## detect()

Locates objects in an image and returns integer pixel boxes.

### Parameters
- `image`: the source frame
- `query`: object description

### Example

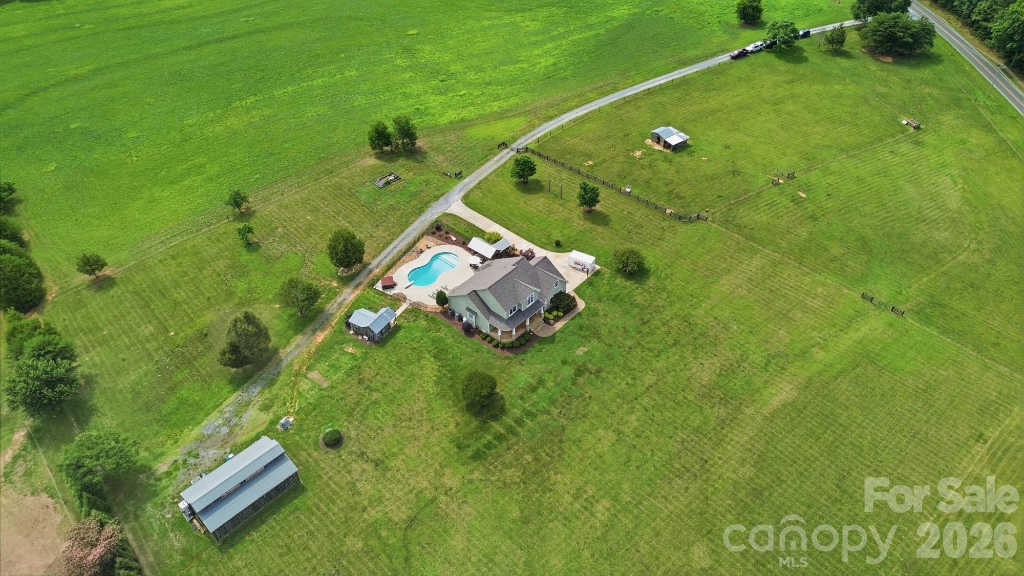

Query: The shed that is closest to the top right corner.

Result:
[651,125,689,151]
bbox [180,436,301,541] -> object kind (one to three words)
barn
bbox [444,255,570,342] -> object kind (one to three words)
house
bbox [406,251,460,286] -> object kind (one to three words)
swimming pool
